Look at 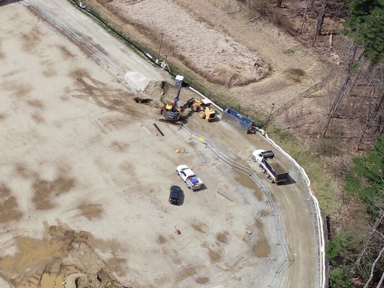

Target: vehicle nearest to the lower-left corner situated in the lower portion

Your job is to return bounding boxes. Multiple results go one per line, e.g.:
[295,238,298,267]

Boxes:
[163,185,188,209]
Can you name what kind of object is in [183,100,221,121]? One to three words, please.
work vehicle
